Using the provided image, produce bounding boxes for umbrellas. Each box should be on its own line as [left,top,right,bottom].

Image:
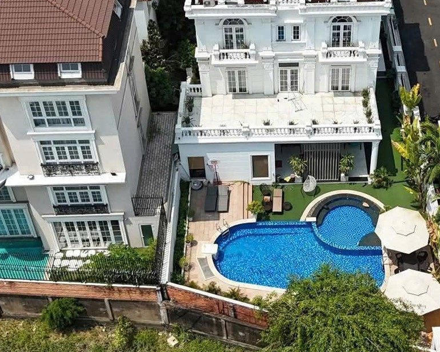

[382,270,440,327]
[373,212,428,257]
